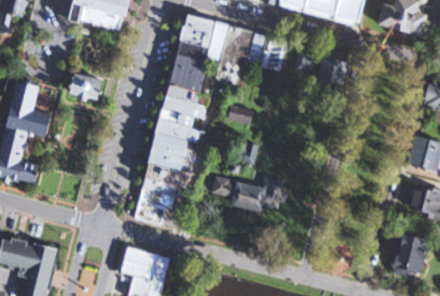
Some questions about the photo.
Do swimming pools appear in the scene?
No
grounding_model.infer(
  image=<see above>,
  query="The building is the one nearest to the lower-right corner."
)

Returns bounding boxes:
[396,235,428,276]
